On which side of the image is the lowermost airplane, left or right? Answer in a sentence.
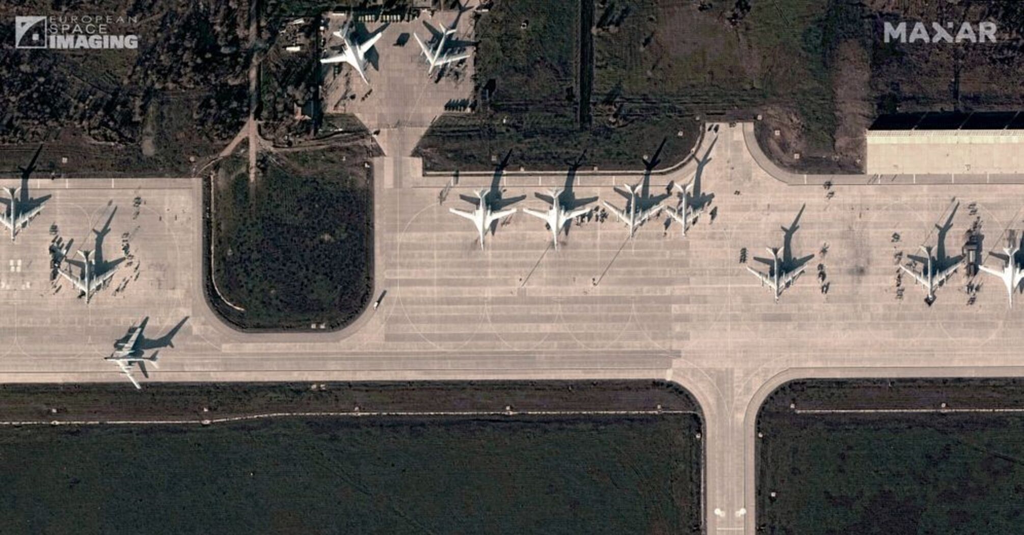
The lowermost airplane is on the left side of the image.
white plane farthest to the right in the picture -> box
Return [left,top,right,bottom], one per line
[978,247,1024,306]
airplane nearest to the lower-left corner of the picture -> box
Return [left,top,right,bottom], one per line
[104,330,159,388]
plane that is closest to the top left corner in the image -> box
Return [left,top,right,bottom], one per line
[0,184,42,239]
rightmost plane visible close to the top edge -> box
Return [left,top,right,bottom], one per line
[414,21,470,74]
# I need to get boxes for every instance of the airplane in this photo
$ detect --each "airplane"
[523,189,589,248]
[900,246,959,300]
[746,246,805,300]
[603,180,662,236]
[450,190,516,248]
[0,184,42,239]
[414,21,470,74]
[978,247,1024,306]
[665,180,702,235]
[104,330,159,388]
[321,27,382,85]
[57,249,116,303]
